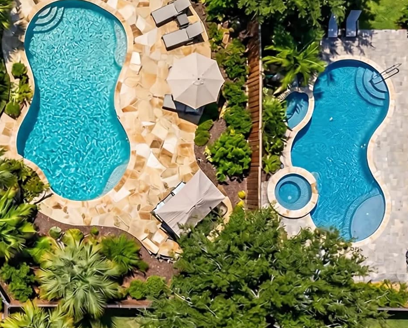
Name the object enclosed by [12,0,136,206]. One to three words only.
swimming pool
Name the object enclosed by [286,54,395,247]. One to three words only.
swimming pool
